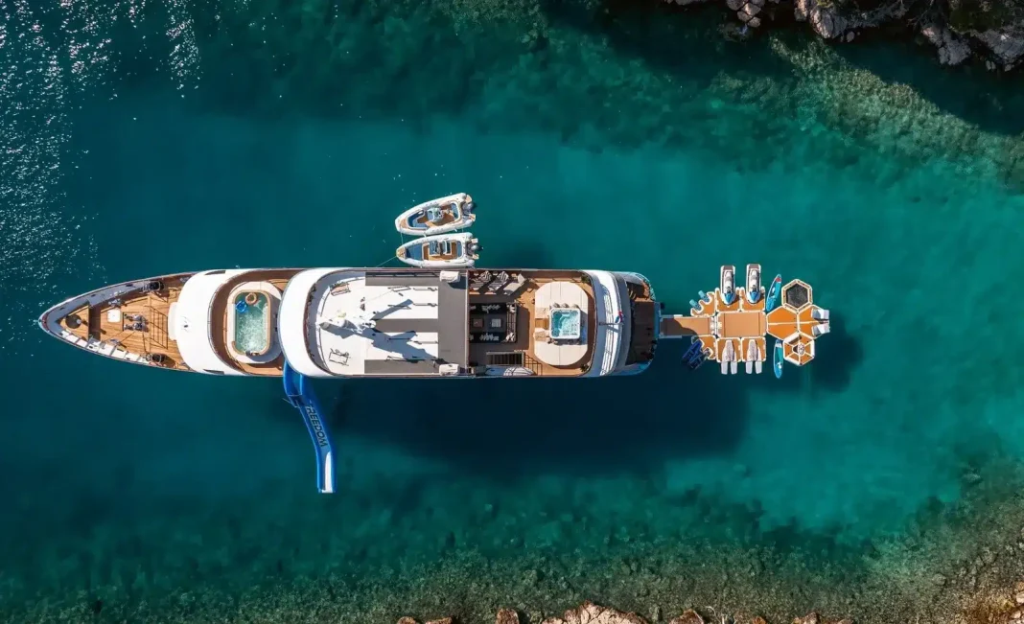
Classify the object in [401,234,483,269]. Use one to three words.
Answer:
boat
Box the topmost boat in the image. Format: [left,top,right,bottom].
[398,193,479,234]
